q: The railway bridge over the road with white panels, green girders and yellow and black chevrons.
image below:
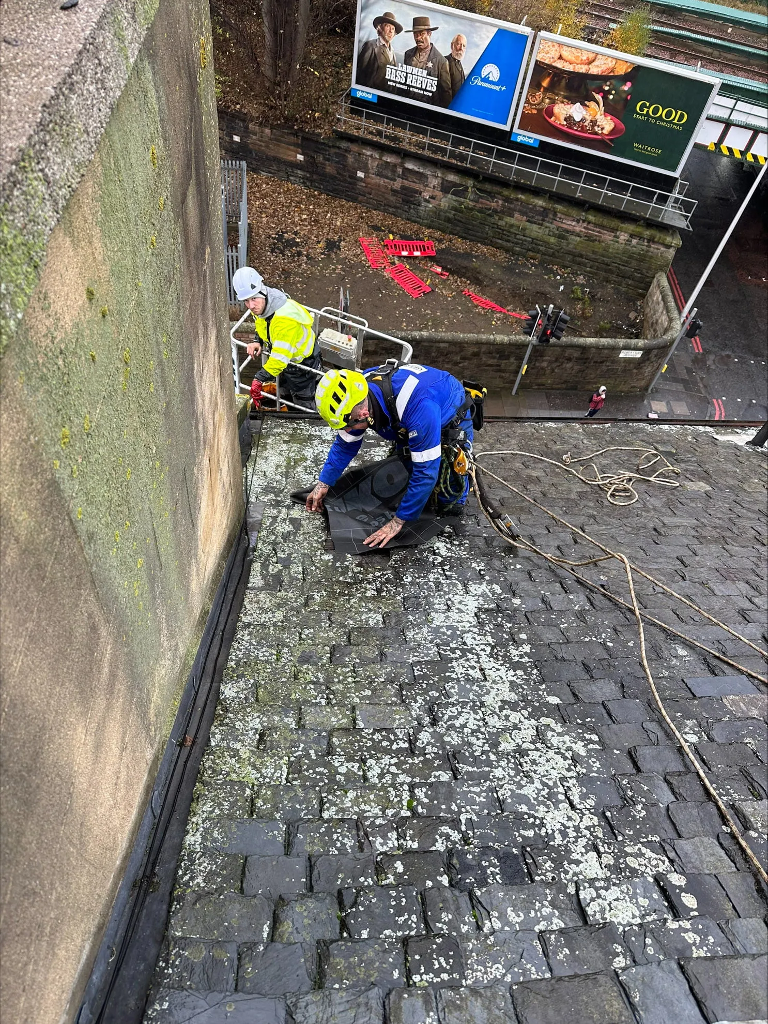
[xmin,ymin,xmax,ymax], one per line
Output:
[527,0,768,277]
